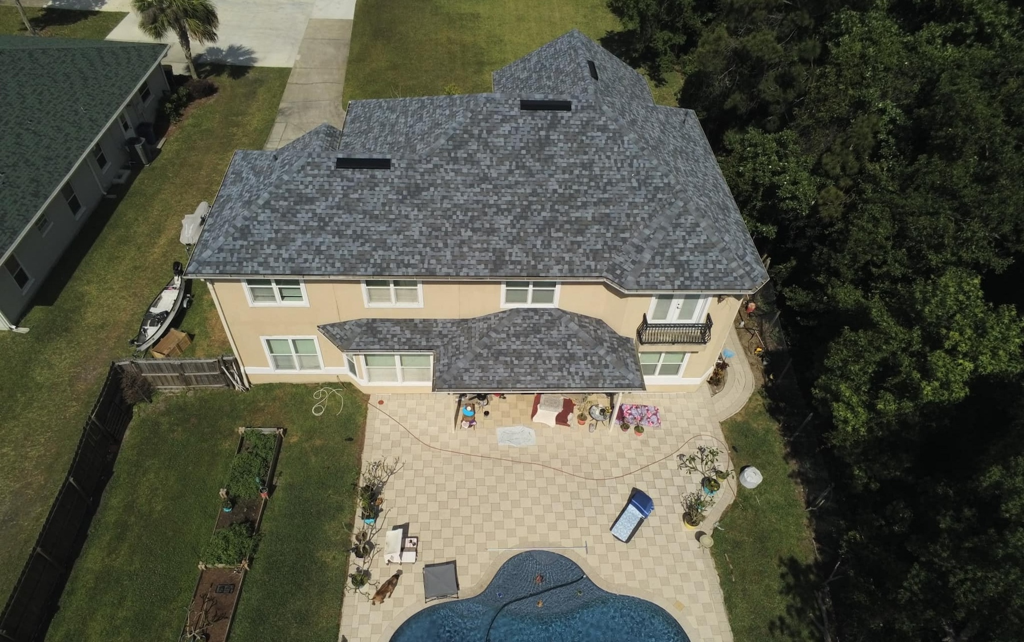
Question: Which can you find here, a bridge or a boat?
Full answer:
Of the two, only a boat appears.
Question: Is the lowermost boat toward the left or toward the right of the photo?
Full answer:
The lowermost boat sits on the left side.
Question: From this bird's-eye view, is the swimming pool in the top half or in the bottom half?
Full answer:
The bottom half of the photo is where the swimming pool is.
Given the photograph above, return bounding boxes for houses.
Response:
[182,30,771,434]
[0,35,174,330]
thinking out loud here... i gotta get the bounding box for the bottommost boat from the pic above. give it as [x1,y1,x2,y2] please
[131,266,189,353]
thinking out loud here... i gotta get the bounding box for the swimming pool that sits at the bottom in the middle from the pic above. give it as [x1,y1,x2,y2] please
[394,551,688,642]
